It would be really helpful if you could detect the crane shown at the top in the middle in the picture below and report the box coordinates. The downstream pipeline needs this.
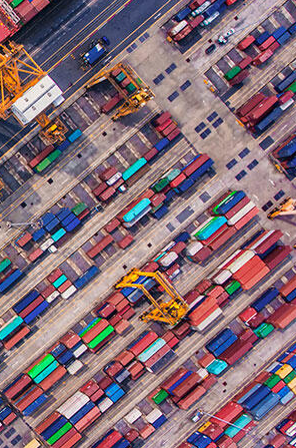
[85,58,156,120]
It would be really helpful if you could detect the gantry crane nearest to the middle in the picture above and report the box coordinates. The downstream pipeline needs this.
[114,269,191,327]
